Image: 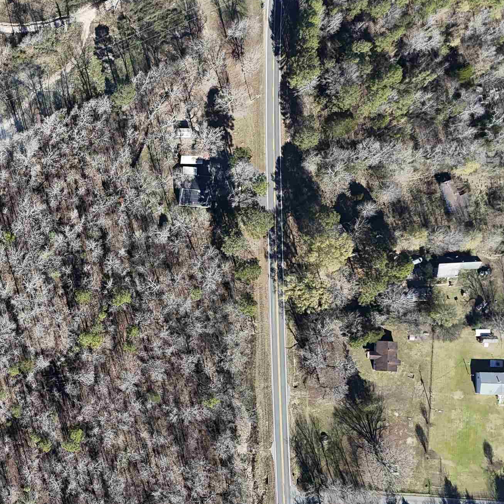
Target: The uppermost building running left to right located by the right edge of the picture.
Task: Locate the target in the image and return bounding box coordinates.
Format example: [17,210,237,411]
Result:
[433,261,483,278]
